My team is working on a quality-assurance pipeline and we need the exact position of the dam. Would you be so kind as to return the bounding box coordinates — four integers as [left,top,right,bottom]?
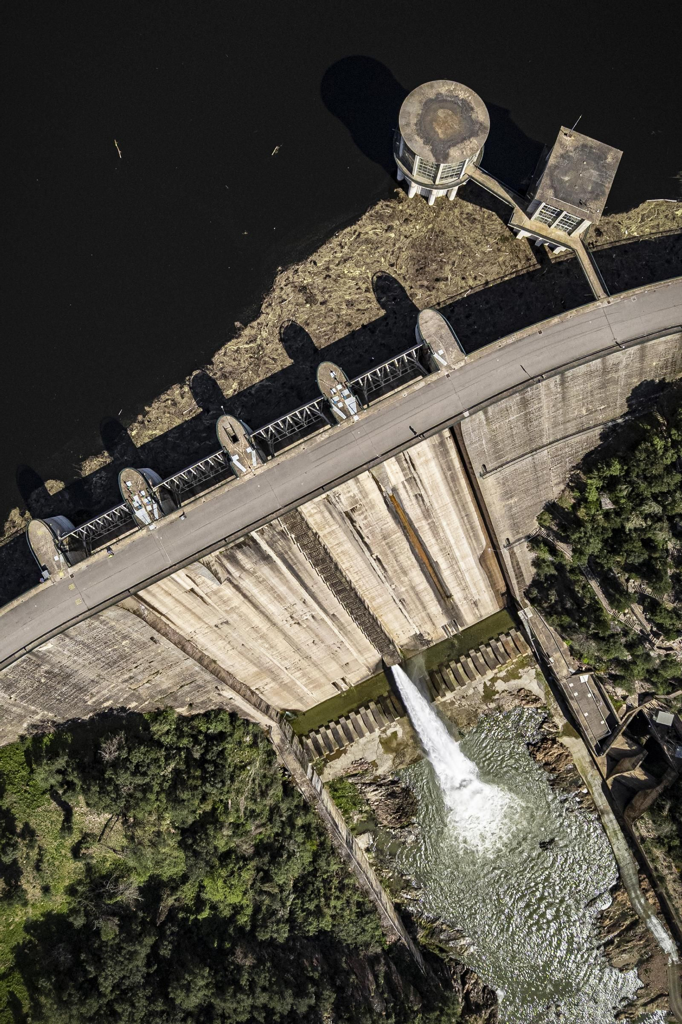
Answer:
[0,276,682,746]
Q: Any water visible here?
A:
Yes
